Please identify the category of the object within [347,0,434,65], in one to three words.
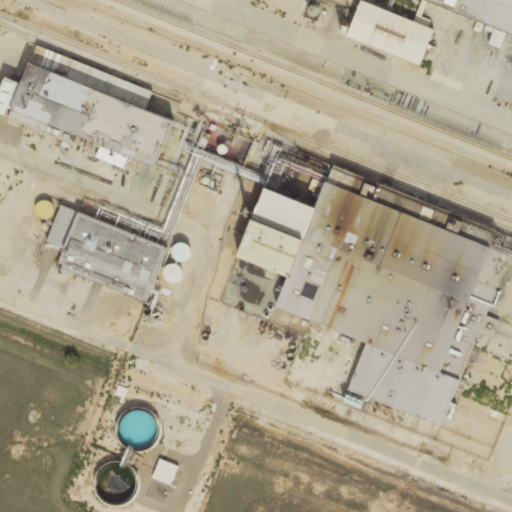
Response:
building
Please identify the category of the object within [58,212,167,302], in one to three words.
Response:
building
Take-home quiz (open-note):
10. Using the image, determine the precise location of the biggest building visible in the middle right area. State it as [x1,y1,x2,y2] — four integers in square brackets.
[277,182,494,426]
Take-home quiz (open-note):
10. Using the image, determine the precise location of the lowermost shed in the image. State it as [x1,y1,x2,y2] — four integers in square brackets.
[152,459,179,485]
